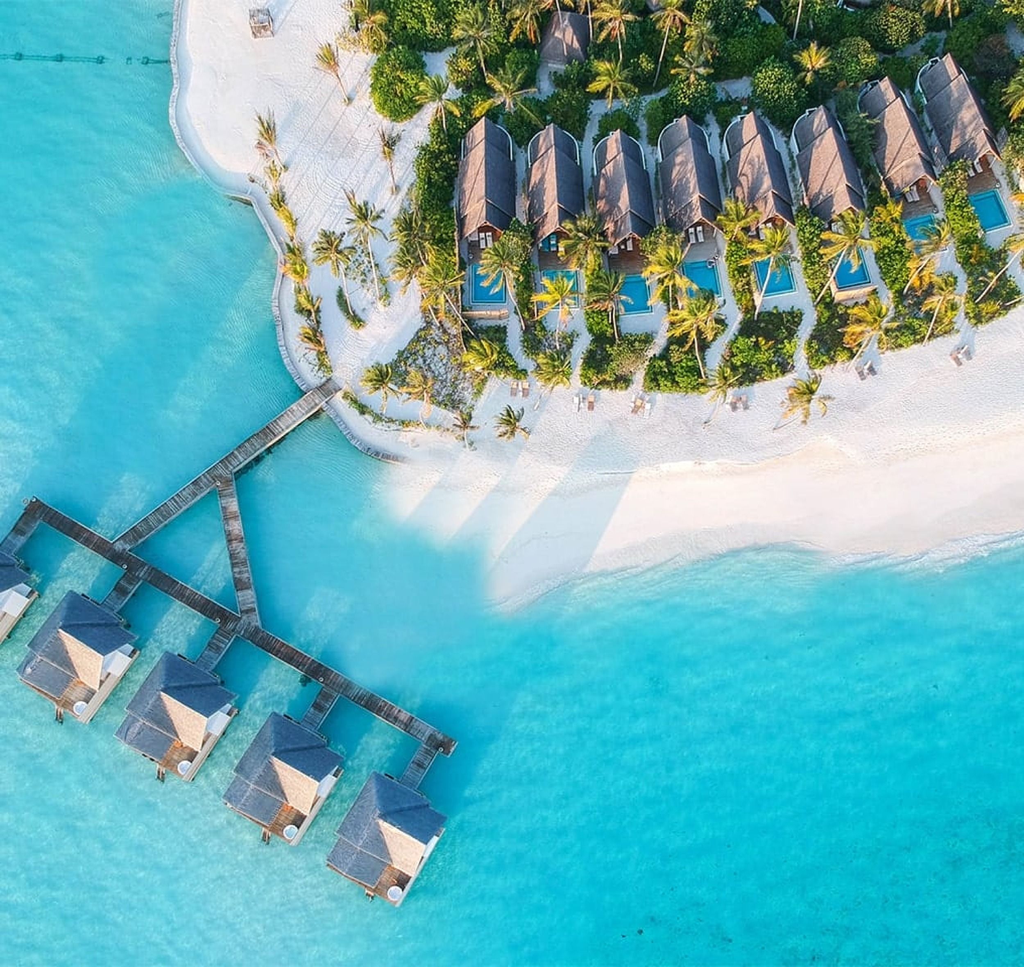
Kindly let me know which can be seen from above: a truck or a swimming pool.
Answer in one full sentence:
Visible in the photo is a swimming pool.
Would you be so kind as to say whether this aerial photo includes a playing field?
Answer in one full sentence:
No, there isn't any playing field down there.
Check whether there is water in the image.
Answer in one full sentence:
Yes, water can be seen from above here.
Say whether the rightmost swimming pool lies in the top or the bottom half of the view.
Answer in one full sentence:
Seen from above, the rightmost swimming pool lies in the top half of the view.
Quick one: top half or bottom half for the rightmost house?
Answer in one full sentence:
You can find the rightmost house in the top half.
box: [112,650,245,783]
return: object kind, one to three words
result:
house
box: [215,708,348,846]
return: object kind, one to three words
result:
house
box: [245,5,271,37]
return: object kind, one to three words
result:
building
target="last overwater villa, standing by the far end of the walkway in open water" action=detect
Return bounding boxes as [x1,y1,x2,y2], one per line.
[324,770,455,915]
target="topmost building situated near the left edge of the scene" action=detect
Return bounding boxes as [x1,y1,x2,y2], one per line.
[0,549,57,656]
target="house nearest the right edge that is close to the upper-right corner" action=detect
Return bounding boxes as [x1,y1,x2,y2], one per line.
[913,54,1020,226]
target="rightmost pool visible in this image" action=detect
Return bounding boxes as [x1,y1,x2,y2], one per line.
[968,189,1011,234]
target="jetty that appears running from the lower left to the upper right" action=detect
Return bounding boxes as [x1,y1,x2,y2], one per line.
[117,378,342,550]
